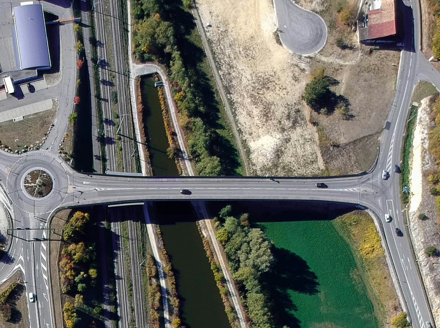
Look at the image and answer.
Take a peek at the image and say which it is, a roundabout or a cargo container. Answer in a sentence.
This aerial view contains a roundabout.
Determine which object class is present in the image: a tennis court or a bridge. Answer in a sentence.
Visible in the photo is a bridge.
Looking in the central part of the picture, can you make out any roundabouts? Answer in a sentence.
No, looking in the central part of the picture, there is no roundabout.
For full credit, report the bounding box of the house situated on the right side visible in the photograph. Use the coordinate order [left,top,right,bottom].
[353,0,395,47]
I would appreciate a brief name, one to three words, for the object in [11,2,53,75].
building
